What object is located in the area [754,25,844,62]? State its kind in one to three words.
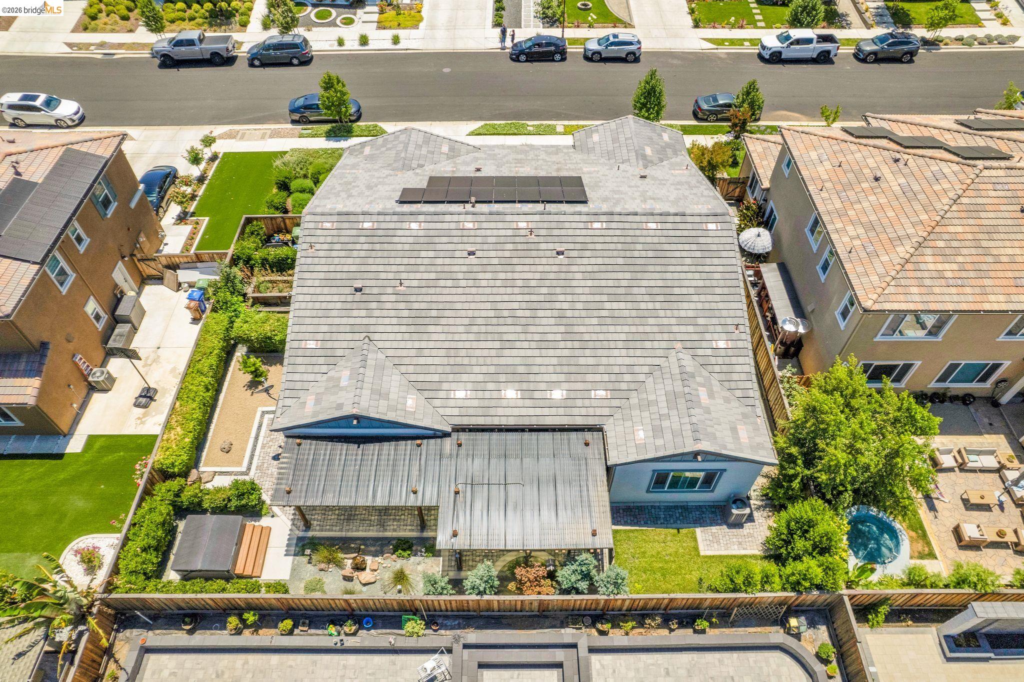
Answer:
truck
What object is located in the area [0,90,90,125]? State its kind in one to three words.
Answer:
car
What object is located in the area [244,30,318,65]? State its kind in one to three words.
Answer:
car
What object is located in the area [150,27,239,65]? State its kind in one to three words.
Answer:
truck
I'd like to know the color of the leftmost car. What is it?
white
